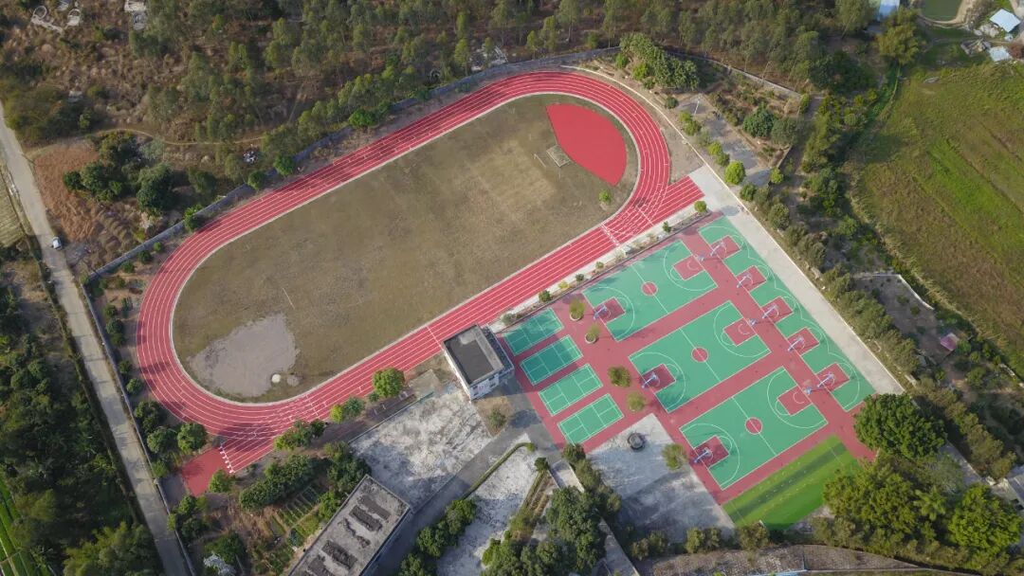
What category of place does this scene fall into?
sports ground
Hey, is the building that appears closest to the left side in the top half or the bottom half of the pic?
bottom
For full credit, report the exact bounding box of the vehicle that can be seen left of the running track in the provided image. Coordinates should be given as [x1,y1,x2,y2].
[51,235,64,251]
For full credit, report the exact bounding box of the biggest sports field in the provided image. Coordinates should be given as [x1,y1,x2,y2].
[172,94,637,403]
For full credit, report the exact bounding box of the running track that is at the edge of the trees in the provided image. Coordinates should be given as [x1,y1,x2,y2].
[139,74,703,499]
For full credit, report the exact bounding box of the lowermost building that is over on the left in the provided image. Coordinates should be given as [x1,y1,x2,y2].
[287,474,416,576]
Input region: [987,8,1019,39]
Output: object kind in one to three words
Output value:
shed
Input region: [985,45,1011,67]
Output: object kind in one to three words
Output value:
shed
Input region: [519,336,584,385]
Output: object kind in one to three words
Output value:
sports court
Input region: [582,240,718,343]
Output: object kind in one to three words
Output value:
basketball court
